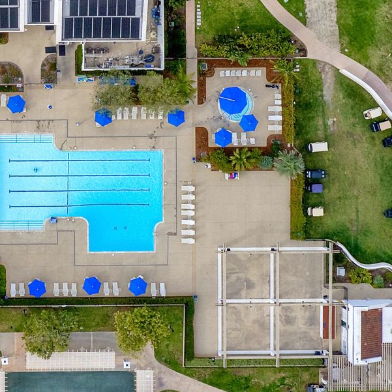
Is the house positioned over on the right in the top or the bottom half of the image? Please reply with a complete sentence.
The bottom half of the photo is where the house positioned over on the right is.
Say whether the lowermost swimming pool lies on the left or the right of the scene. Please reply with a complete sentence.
The lowermost swimming pool appears in the left half of the scene.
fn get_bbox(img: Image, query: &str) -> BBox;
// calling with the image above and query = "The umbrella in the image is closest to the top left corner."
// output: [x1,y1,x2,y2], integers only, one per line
[8,95,24,113]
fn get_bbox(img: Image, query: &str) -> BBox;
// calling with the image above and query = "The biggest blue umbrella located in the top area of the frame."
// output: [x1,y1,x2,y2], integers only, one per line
[219,88,246,116]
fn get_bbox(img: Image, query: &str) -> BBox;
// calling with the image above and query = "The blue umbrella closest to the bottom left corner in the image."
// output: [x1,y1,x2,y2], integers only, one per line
[29,279,47,297]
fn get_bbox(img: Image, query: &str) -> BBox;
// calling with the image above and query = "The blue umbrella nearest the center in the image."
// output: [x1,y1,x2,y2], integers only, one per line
[213,128,232,147]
